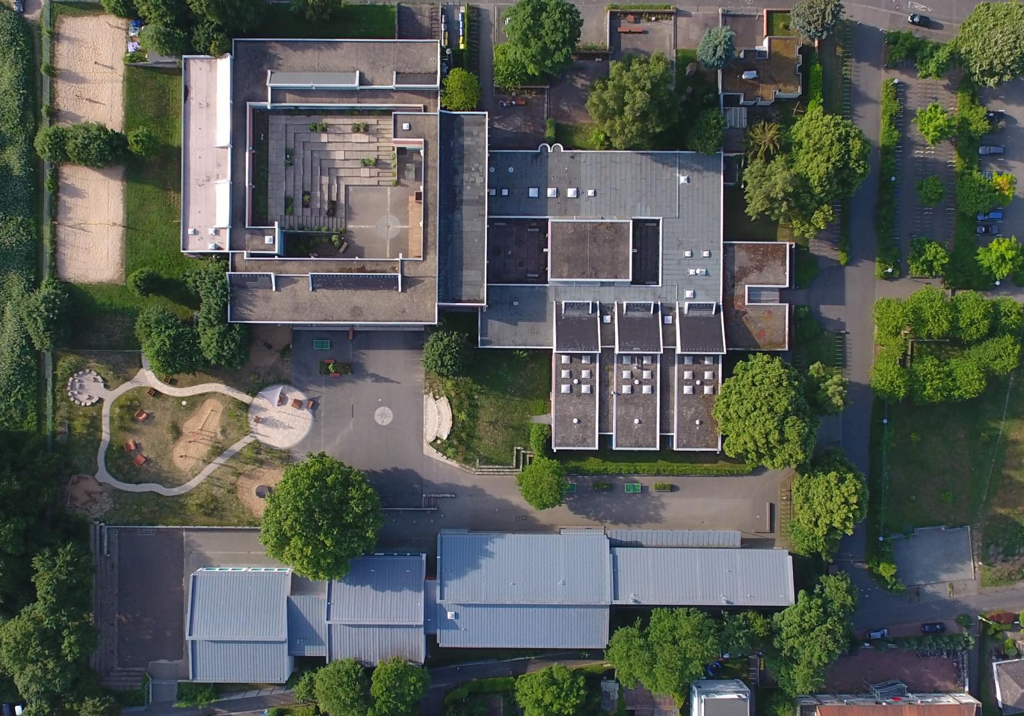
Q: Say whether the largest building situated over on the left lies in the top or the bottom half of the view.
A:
top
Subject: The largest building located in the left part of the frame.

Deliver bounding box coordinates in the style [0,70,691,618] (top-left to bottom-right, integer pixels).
[181,38,488,330]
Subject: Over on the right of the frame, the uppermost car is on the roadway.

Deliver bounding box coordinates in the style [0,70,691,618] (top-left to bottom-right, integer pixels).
[905,13,932,28]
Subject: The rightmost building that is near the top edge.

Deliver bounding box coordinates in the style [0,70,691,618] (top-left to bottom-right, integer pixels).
[714,35,802,131]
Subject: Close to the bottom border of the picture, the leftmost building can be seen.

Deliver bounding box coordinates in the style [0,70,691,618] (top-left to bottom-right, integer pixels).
[184,565,328,683]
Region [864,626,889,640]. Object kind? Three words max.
car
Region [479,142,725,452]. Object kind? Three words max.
building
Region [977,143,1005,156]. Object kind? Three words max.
vehicle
